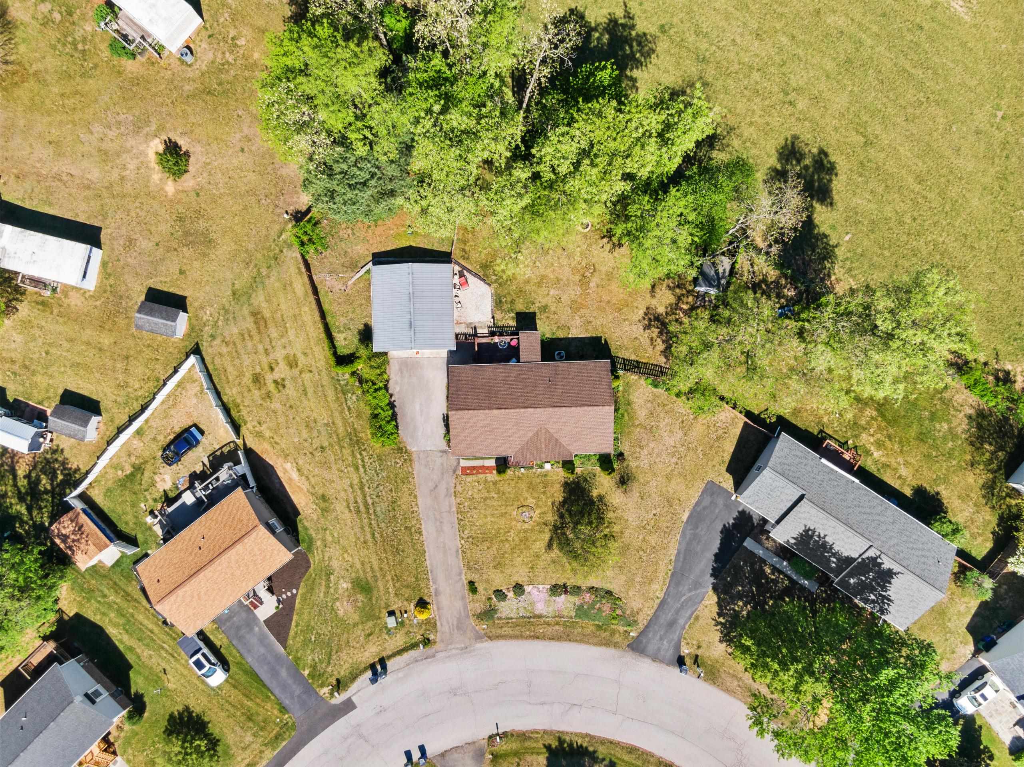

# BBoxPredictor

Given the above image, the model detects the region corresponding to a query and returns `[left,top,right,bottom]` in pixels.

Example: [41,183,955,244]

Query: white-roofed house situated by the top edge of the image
[111,0,212,63]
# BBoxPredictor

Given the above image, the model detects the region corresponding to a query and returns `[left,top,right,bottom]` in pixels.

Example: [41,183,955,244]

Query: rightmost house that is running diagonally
[730,421,957,628]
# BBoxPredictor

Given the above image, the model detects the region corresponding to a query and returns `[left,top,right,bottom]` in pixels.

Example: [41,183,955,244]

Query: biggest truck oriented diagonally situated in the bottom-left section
[178,632,229,687]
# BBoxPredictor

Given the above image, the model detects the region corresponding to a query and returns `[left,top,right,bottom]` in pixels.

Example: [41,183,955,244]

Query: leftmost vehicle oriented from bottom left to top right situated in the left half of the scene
[160,425,205,467]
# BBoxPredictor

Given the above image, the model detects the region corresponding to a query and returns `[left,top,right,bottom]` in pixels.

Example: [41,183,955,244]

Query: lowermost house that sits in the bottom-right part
[973,610,1024,716]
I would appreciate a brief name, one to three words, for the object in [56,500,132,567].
shed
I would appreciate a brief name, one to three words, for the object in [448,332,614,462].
house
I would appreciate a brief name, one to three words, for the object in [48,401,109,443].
shed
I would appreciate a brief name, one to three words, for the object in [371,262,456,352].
building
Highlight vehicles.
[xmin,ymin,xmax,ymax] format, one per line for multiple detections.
[955,672,1002,715]
[178,632,229,687]
[160,425,205,467]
